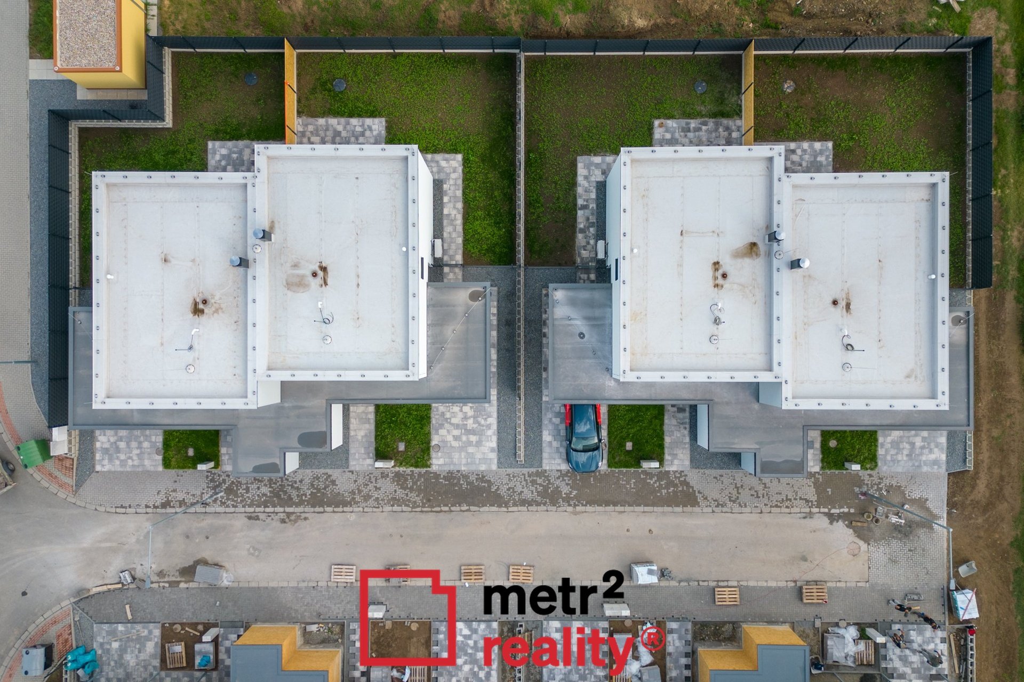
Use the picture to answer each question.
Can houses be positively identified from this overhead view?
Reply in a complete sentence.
Yes, there's a house here.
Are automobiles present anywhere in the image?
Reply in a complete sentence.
Yes, you can see an automobile in this photo.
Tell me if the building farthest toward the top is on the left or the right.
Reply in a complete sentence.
The building farthest toward the top is on the left side of the image.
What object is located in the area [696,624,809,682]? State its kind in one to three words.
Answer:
house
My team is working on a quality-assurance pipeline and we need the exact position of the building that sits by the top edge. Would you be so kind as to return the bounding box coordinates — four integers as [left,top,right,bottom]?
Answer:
[54,0,147,89]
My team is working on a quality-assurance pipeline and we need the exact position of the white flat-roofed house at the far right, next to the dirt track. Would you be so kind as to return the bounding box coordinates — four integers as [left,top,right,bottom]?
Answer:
[741,172,975,478]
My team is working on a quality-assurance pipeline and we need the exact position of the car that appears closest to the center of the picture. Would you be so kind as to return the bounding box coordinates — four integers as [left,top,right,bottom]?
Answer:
[562,405,606,473]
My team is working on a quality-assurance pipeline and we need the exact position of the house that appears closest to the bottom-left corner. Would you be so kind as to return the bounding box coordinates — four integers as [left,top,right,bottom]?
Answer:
[231,625,342,682]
